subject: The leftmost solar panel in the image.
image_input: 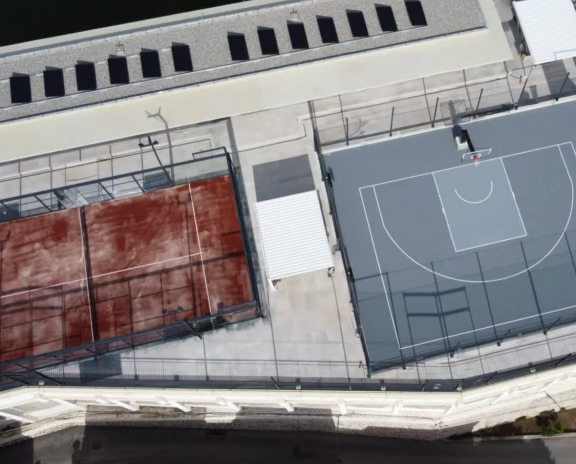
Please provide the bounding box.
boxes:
[9,76,31,104]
